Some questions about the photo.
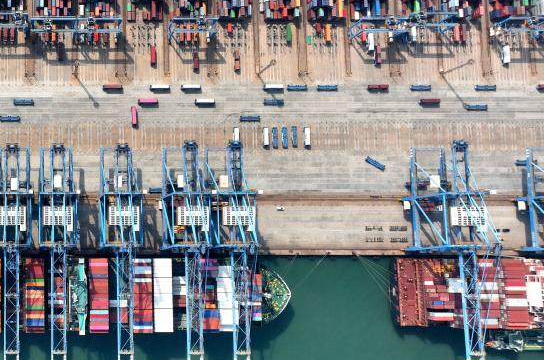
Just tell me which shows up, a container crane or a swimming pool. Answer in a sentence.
There is a container crane in the scene.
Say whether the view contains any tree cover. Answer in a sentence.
No, there's no tree cover in this view.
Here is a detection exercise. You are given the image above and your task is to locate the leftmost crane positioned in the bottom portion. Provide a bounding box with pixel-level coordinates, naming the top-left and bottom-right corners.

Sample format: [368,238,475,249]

[0,140,35,360]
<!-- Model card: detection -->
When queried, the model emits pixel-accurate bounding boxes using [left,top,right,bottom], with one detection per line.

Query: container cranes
[0,140,35,360]
[31,16,77,43]
[165,17,217,44]
[513,147,544,252]
[398,139,505,360]
[34,140,82,360]
[154,139,216,360]
[75,16,122,43]
[349,16,410,43]
[194,139,262,360]
[398,10,461,37]
[0,11,30,38]
[92,139,147,360]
